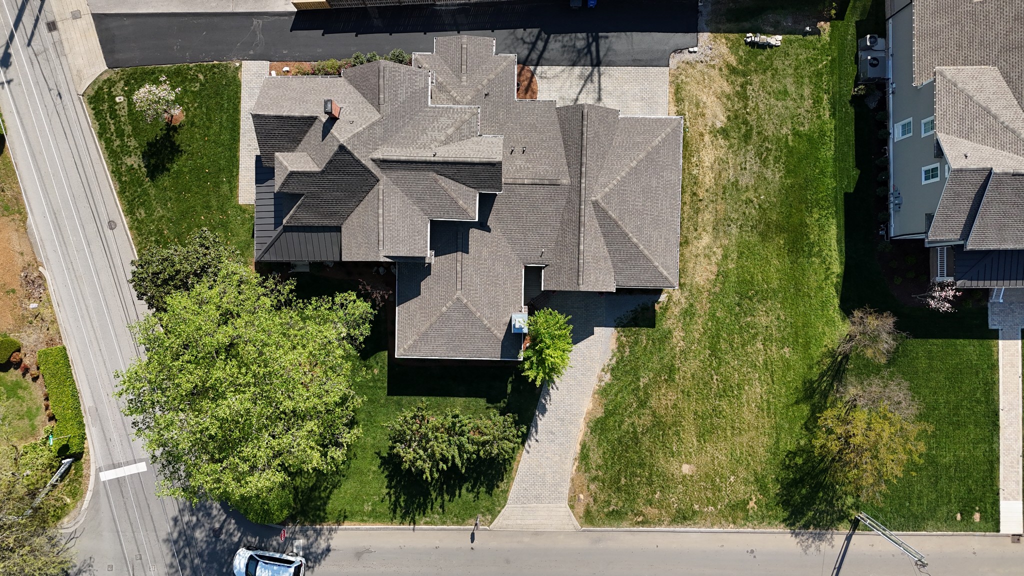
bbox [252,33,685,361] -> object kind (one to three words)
house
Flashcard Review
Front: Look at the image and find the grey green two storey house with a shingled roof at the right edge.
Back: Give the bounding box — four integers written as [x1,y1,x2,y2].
[888,0,1024,304]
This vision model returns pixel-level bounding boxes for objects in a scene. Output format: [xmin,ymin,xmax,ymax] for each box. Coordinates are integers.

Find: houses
[252,33,685,361]
[888,0,1024,304]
